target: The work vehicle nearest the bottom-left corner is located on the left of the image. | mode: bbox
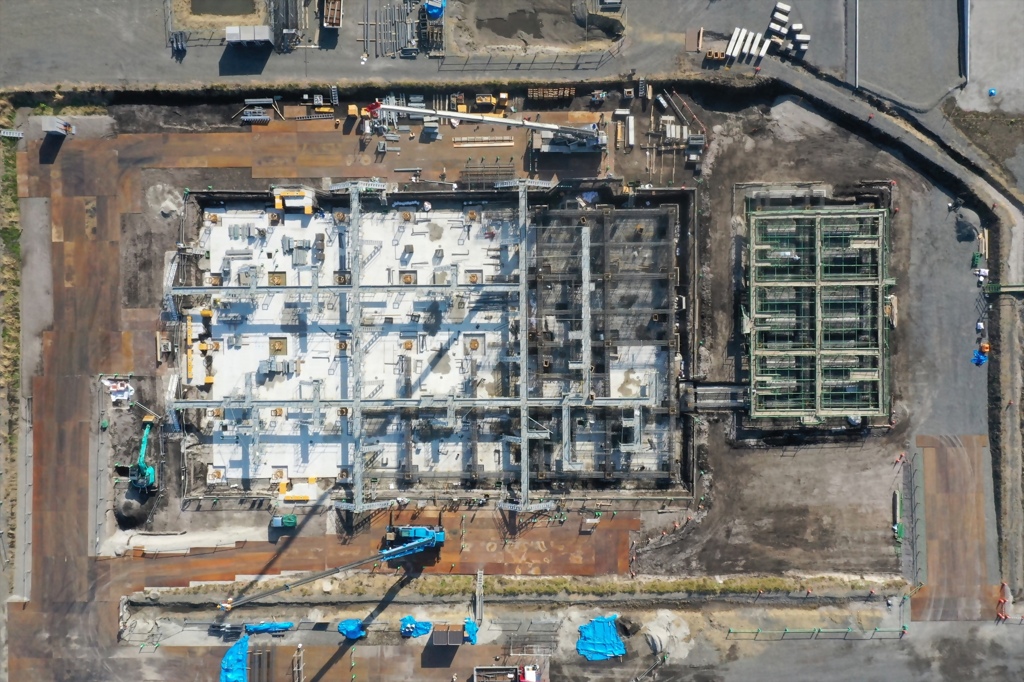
[131,413,156,491]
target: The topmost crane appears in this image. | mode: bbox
[366,99,607,173]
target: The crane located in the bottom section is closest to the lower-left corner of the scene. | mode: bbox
[218,505,445,611]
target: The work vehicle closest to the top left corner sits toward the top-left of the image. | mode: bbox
[64,121,80,138]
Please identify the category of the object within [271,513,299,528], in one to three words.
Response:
vehicle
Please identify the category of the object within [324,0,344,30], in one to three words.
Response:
vehicle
